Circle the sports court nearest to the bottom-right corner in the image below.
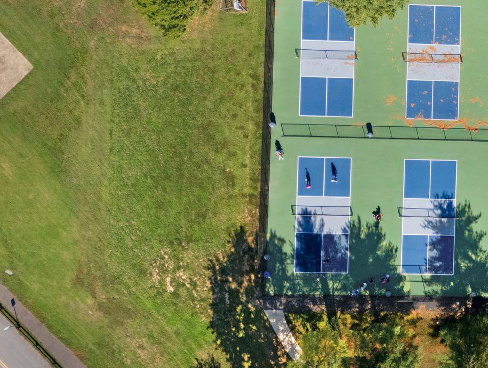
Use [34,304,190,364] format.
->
[401,159,457,275]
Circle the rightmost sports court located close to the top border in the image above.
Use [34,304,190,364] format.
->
[406,5,461,120]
